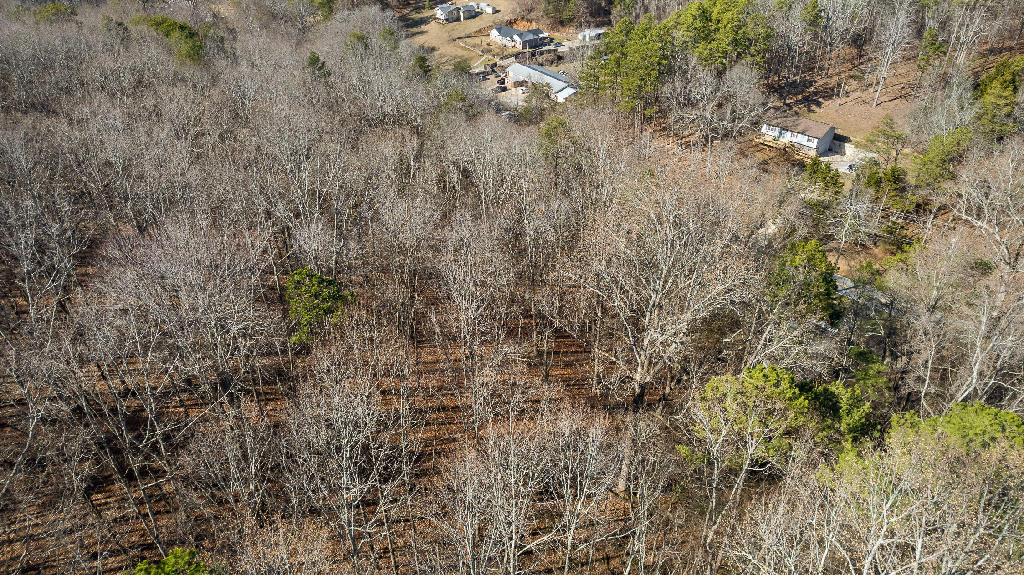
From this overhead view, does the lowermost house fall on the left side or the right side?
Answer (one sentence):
The lowermost house sits on the right side.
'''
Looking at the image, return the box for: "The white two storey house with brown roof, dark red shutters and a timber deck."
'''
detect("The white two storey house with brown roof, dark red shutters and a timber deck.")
[760,112,839,155]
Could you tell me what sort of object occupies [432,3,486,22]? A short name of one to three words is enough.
house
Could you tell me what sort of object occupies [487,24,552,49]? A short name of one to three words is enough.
house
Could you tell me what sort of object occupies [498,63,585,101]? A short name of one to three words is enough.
building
